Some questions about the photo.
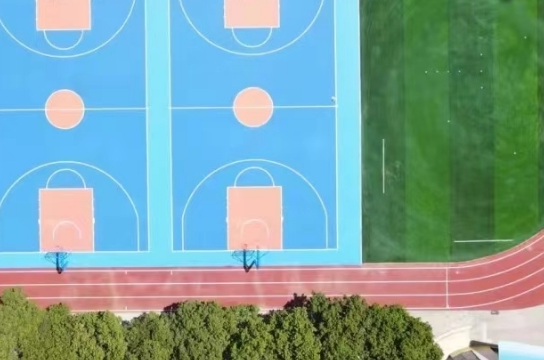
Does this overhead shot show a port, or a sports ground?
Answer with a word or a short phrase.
sports ground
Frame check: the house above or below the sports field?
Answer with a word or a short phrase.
below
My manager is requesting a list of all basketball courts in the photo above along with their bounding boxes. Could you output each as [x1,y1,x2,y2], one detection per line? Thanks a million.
[0,0,148,254]
[170,0,336,252]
